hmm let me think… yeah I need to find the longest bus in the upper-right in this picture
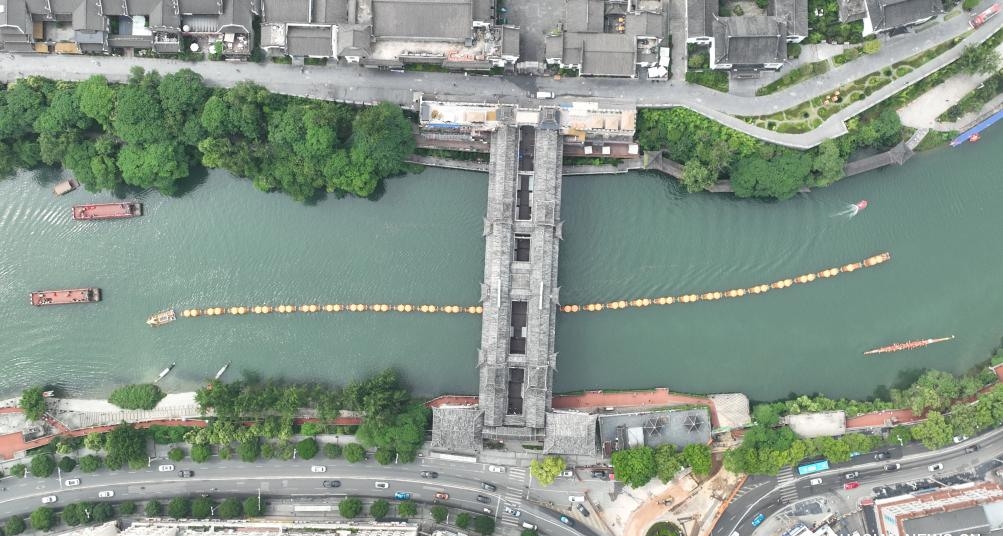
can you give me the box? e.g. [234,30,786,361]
[965,3,1000,29]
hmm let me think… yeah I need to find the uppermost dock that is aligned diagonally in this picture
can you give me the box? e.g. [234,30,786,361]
[946,109,1003,149]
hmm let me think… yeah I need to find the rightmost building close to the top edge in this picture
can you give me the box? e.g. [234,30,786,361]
[867,0,947,34]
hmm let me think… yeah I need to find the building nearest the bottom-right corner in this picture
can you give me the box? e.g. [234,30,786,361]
[876,480,1003,536]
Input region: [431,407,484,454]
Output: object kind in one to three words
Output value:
building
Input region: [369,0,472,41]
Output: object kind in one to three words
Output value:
house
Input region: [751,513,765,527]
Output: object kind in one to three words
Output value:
vehicle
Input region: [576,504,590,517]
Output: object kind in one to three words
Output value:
vehicle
